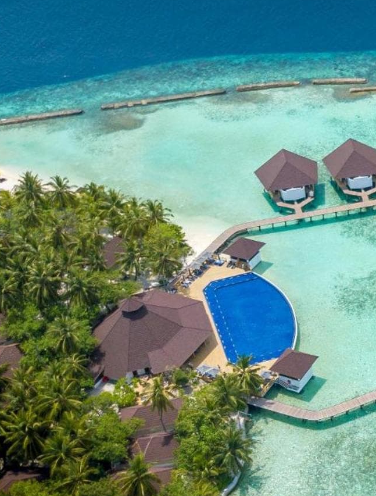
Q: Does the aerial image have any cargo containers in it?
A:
No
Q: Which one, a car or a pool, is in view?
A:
pool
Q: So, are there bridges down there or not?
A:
No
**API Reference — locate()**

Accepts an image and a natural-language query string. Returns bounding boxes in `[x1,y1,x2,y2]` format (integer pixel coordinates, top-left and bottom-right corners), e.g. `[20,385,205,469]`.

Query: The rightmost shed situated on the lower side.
[269,347,320,401]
